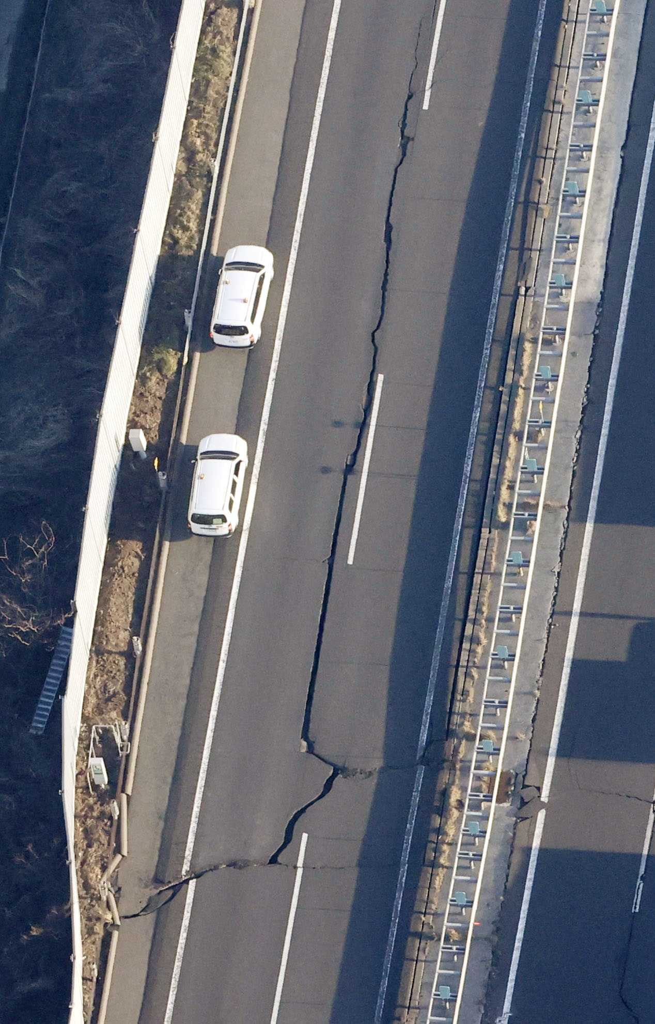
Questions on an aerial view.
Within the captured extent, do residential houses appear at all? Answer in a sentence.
No, no residential house can be seen from above.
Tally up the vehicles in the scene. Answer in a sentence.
There are 2 vehicles in the image.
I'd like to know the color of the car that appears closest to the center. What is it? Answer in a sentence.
The car that appears closest to the center is white.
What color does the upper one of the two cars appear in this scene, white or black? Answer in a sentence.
In this view, the upper one of the two cars is white.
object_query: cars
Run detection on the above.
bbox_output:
[188,431,246,536]
[211,244,271,347]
